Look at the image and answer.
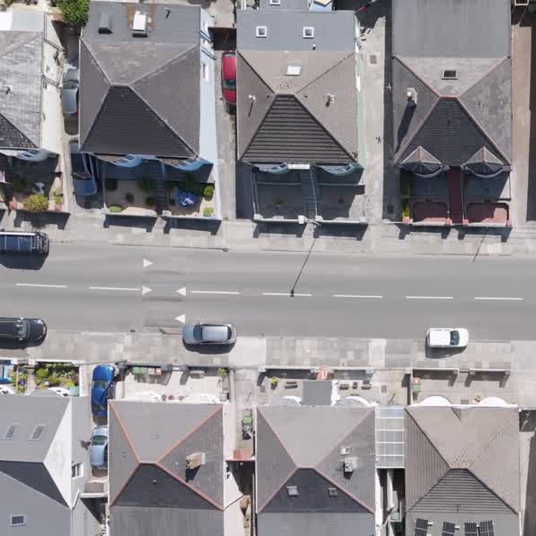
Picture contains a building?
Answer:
Yes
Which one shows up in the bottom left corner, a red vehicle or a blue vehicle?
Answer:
blue vehicle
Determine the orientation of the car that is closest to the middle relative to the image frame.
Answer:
horizontally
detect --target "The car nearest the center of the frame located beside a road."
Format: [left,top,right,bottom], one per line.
[184,322,236,346]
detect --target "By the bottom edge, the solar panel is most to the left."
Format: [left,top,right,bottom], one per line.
[414,520,432,536]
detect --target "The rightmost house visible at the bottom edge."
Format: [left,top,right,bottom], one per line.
[404,393,519,536]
